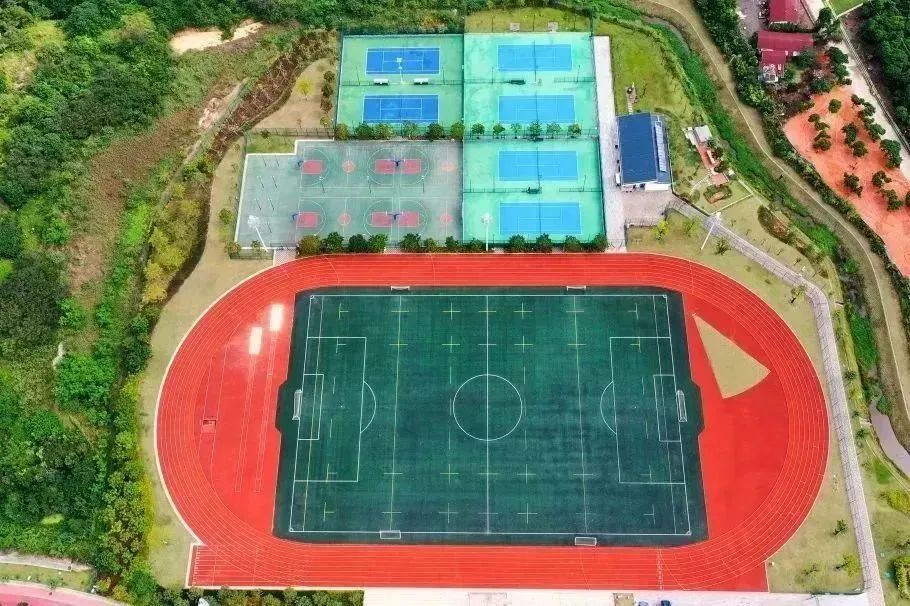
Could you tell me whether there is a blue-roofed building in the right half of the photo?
Yes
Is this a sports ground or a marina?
sports ground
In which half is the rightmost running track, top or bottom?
bottom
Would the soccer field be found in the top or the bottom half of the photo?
bottom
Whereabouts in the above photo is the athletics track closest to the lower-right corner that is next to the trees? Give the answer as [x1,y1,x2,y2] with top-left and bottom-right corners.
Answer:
[154,251,830,594]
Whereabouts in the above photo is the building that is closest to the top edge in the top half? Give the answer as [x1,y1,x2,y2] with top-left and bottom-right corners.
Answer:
[763,0,797,28]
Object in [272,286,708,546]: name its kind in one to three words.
soccer field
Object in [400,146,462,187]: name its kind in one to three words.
basketball court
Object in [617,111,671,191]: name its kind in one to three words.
building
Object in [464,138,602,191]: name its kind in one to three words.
tennis court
